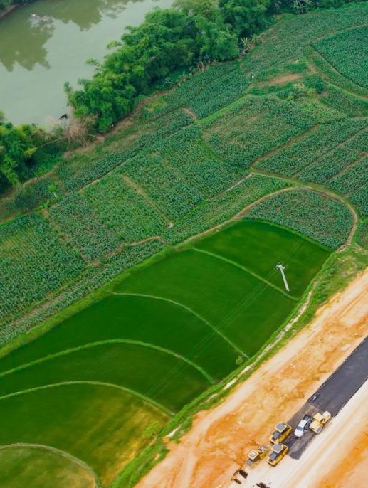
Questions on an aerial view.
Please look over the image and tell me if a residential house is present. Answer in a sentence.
No, no residential house is visible in the view.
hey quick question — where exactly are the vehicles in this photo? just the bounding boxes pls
[246,441,271,468]
[290,414,314,438]
[308,410,331,436]
[269,420,294,444]
[266,439,291,466]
